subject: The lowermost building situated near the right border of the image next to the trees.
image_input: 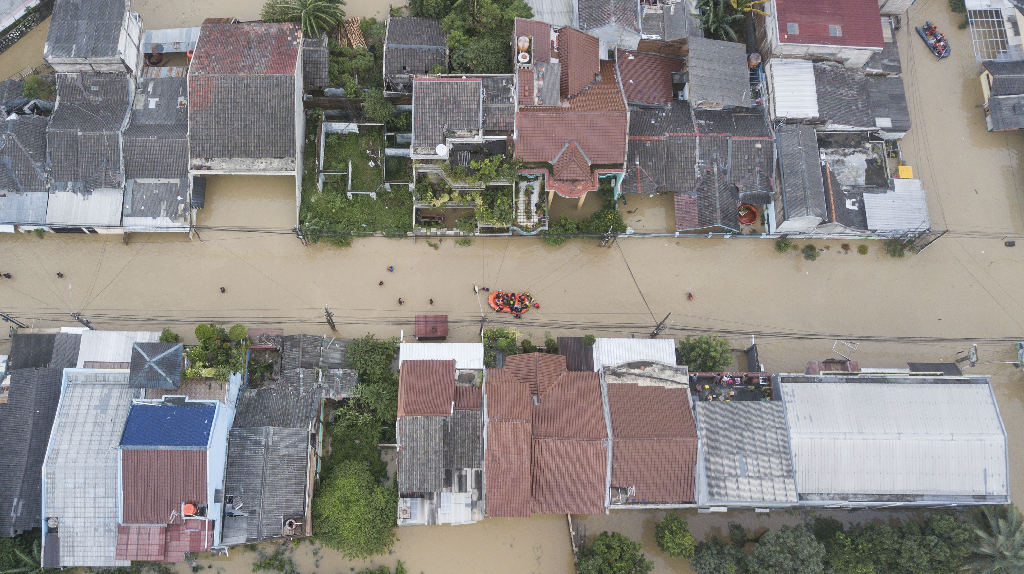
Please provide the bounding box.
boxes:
[770,371,1011,510]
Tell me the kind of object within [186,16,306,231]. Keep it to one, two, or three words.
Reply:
house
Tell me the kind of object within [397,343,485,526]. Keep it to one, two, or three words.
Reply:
house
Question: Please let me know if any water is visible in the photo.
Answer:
Yes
